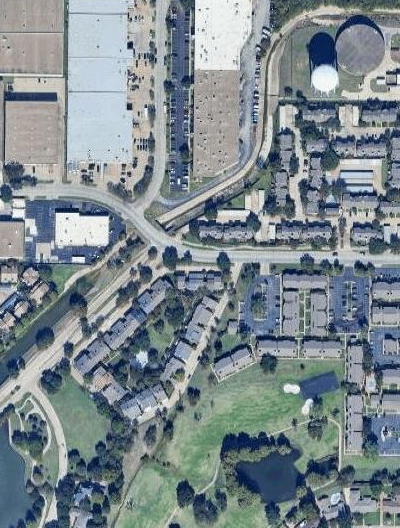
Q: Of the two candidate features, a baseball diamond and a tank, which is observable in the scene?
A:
tank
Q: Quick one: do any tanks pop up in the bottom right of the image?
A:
No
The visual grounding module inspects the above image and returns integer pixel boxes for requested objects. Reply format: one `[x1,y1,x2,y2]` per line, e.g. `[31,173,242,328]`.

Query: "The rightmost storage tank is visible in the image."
[335,26,384,76]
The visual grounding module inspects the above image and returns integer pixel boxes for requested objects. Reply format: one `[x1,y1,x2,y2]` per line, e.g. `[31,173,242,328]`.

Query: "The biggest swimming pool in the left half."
[136,353,149,367]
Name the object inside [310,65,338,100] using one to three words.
water tower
